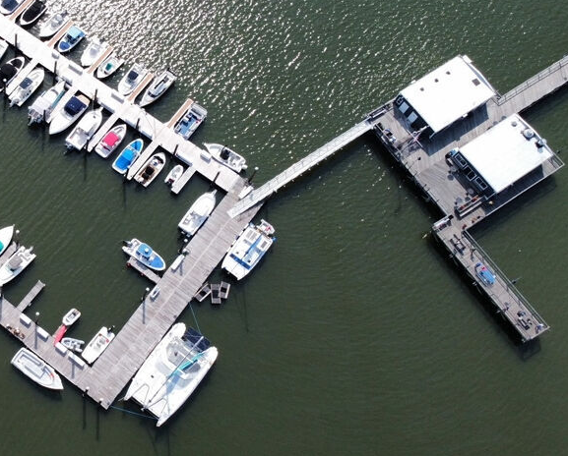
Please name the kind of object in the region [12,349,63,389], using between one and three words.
boat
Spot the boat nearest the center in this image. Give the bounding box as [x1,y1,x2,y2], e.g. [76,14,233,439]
[259,218,275,233]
